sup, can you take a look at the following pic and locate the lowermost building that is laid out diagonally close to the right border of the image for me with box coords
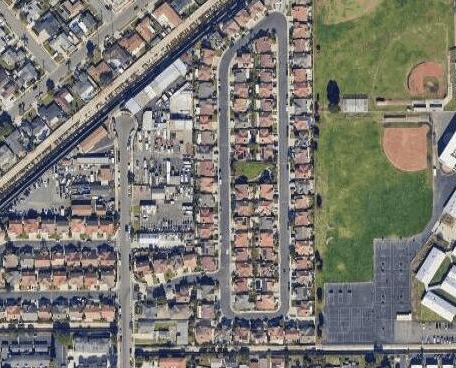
[420,287,456,323]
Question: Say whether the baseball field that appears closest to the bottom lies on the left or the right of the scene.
right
